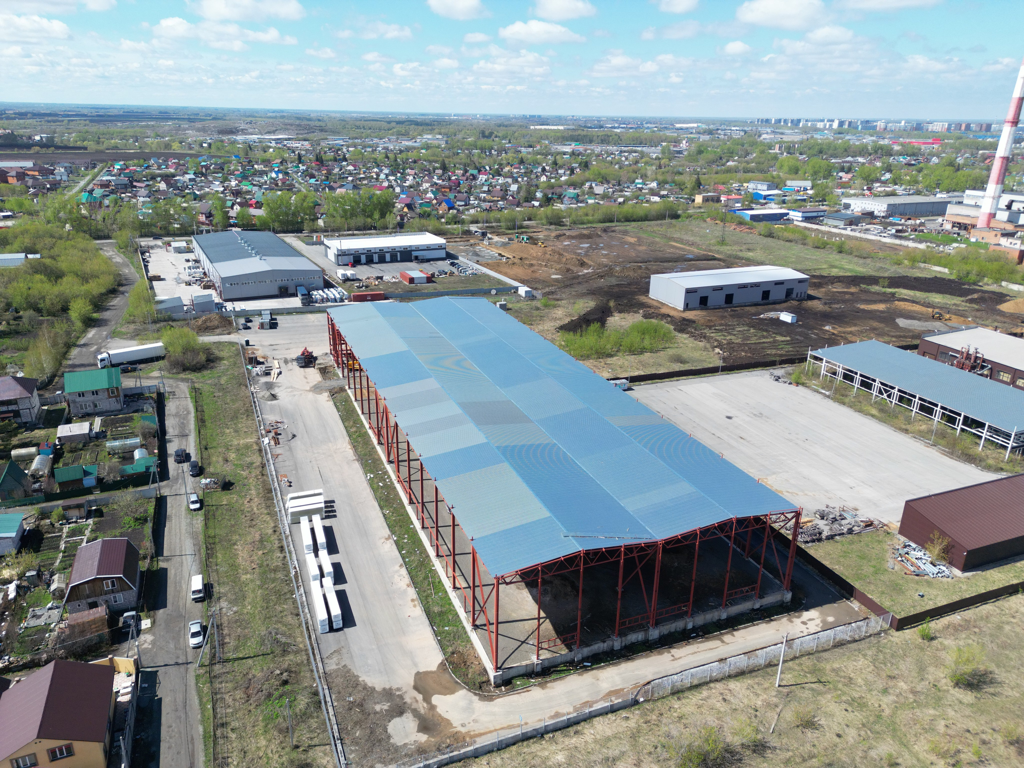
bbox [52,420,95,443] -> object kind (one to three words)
shed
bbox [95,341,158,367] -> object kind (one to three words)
truck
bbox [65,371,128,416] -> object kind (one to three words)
house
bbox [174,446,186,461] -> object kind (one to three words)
vehicle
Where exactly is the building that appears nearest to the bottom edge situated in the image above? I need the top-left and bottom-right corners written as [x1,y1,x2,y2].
[0,642,113,768]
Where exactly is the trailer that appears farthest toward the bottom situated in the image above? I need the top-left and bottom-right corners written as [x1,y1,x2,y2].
[139,669,165,708]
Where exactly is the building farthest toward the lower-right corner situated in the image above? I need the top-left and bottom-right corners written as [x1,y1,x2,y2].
[894,467,1024,577]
